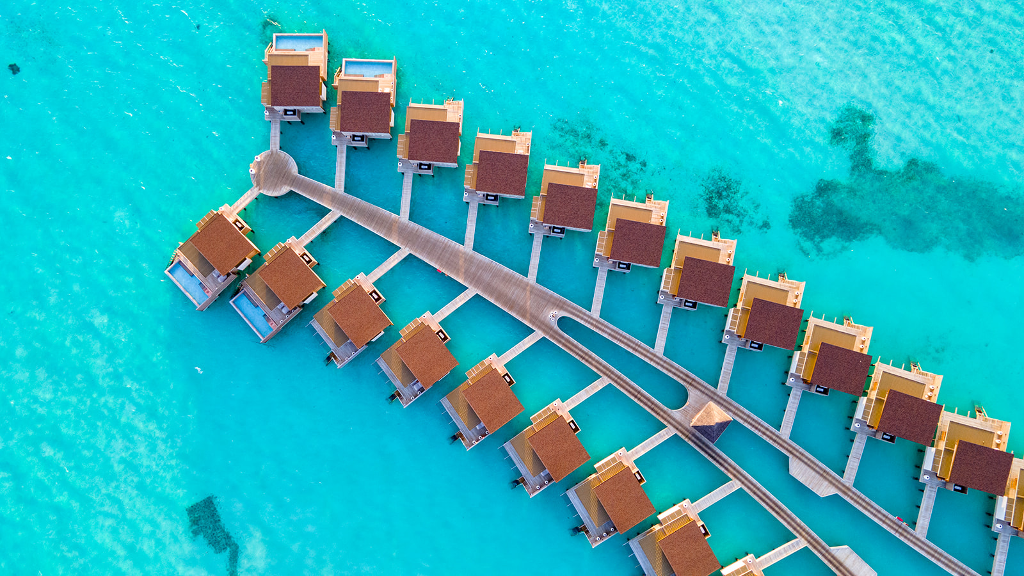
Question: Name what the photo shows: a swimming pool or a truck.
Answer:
swimming pool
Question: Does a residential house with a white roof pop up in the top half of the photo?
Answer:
No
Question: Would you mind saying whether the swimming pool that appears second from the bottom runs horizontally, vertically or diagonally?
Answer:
diagonally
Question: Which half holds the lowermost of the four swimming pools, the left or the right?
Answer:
left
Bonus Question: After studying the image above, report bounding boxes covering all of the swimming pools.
[166,259,220,308]
[230,289,277,341]
[274,33,326,50]
[343,57,397,76]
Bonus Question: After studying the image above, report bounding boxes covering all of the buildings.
[591,192,672,275]
[718,268,809,353]
[396,97,468,178]
[372,309,461,411]
[527,159,604,240]
[623,495,721,576]
[463,128,536,209]
[329,53,401,150]
[844,356,945,446]
[720,550,768,576]
[238,235,331,345]
[436,351,525,454]
[261,27,333,125]
[499,396,591,500]
[561,444,656,550]
[781,311,876,397]
[174,203,266,313]
[691,401,733,444]
[911,404,1014,496]
[655,229,741,312]
[307,271,396,371]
